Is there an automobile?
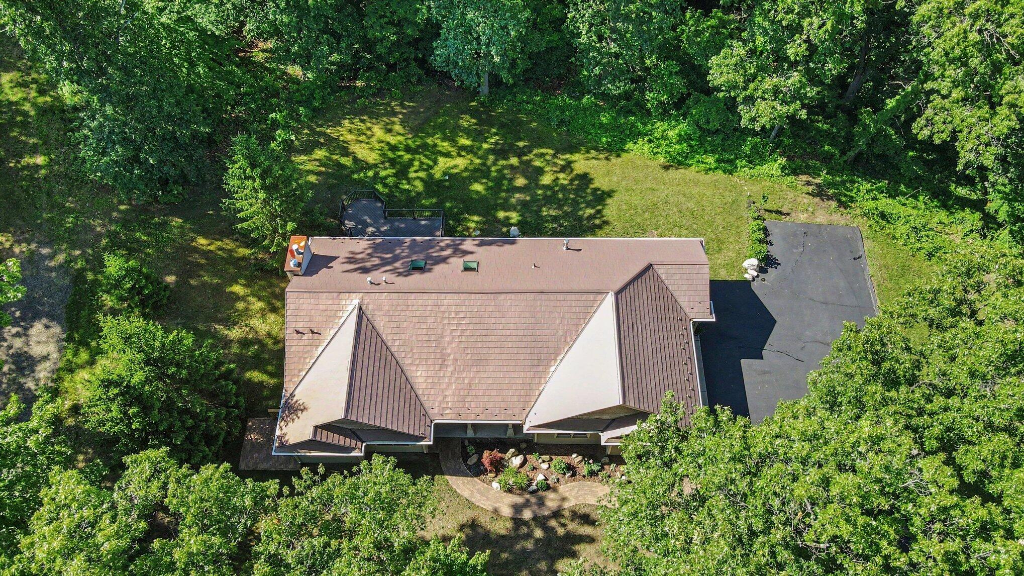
No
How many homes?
one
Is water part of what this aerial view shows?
No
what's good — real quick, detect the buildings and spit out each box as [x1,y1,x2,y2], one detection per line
[273,236,717,463]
